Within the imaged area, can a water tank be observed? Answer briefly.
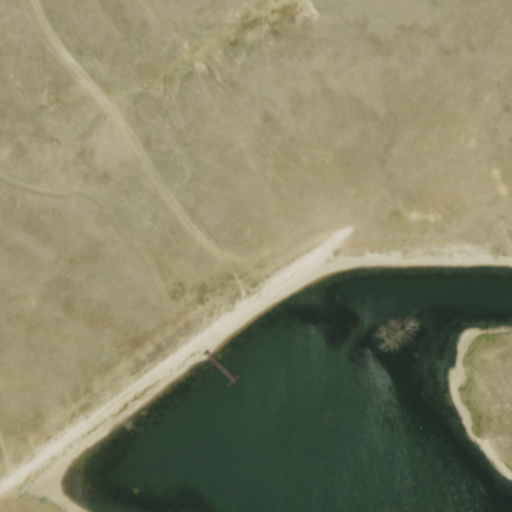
No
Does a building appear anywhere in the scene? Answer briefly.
No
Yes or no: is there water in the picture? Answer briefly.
Yes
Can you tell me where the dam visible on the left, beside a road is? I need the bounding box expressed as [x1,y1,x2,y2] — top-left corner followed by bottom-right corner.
[0,228,350,512]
